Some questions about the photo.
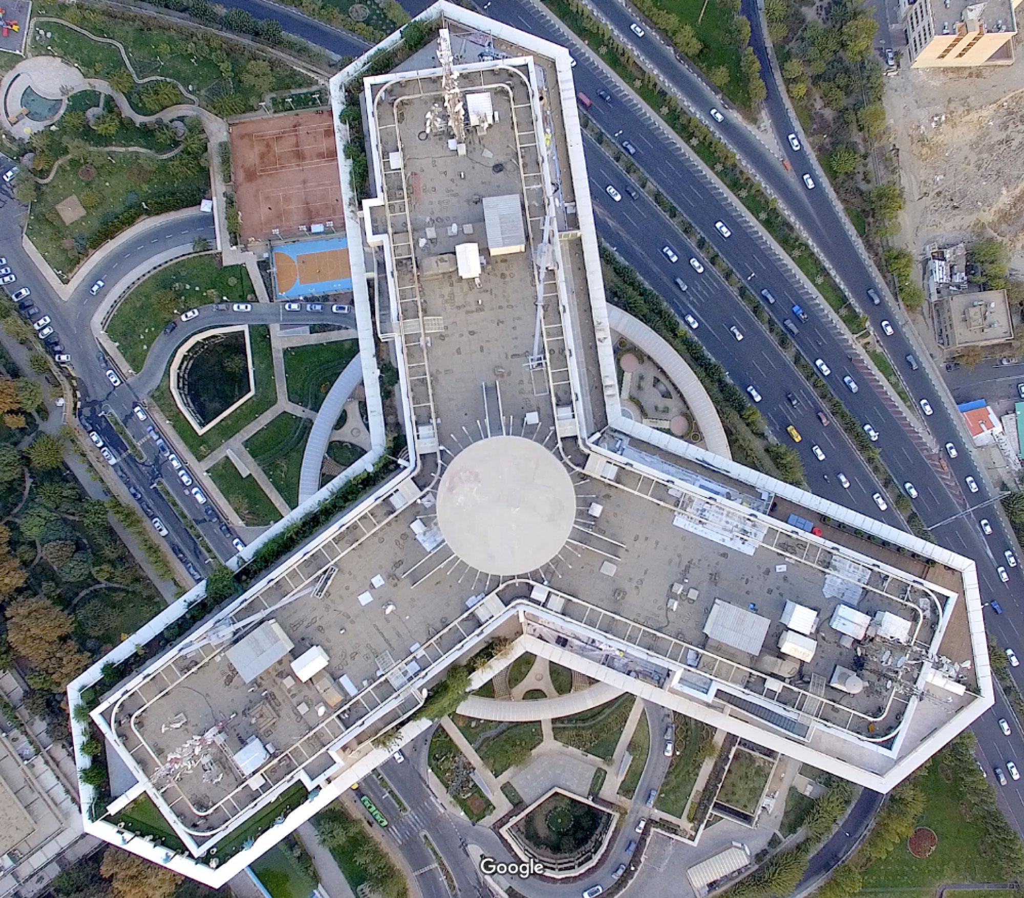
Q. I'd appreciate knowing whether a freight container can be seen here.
No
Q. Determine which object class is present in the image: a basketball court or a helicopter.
basketball court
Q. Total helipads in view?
1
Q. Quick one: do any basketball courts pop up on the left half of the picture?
Yes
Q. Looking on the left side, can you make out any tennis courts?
Yes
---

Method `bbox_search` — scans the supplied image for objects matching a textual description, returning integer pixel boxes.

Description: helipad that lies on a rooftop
[437,436,577,576]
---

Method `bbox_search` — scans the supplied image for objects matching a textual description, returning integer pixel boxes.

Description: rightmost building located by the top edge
[905,0,1016,64]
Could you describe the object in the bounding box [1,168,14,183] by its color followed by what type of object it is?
white vehicle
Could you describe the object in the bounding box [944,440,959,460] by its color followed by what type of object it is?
white car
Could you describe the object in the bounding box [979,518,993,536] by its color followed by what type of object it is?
white car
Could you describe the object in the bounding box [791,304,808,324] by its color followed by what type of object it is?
blue vehicle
